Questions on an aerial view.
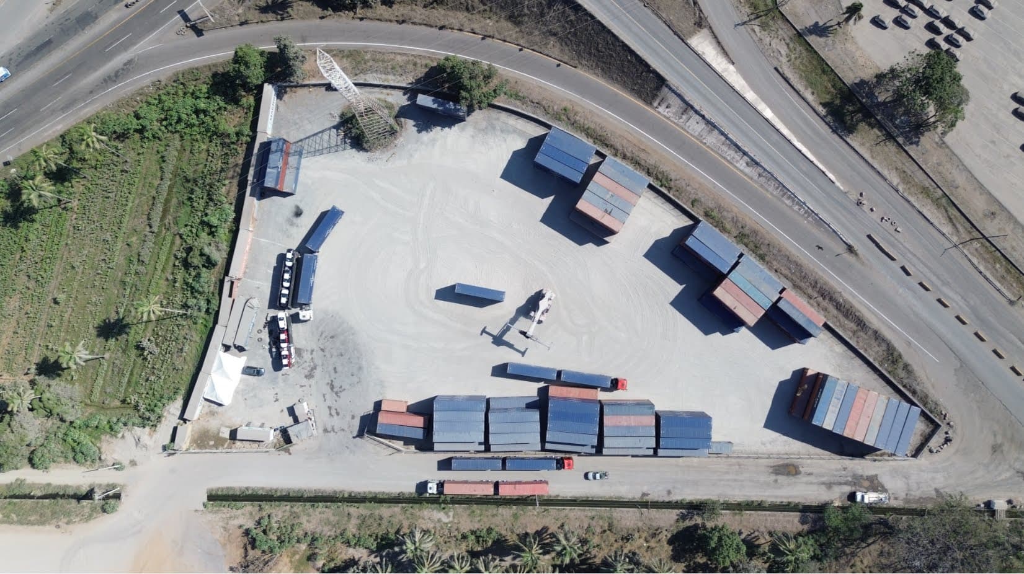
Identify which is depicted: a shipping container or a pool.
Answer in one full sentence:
I can see a shipping container in this picture.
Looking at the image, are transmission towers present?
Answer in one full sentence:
Yes, there is a transmission tower in the image.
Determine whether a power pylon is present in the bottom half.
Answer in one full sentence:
No, there is no power pylon in the bottom half.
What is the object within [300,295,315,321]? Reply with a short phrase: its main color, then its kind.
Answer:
white vehicle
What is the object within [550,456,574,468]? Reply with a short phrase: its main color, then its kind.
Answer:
red vehicle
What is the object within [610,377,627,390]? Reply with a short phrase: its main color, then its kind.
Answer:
red vehicle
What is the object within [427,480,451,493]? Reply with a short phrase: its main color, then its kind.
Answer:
white vehicle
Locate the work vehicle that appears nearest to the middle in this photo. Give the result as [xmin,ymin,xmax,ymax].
[508,286,557,347]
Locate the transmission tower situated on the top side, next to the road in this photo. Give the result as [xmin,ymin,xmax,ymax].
[319,48,398,140]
